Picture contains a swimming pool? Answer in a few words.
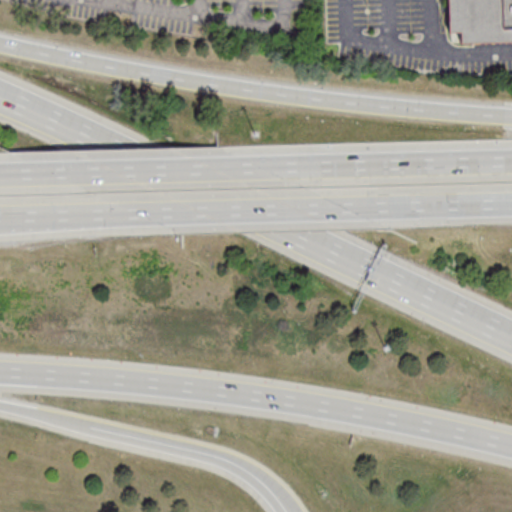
No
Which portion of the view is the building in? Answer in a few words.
top right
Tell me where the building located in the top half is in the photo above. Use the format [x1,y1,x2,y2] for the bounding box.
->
[449,0,512,45]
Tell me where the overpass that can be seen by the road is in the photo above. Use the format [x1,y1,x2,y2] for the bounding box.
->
[8,131,392,250]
